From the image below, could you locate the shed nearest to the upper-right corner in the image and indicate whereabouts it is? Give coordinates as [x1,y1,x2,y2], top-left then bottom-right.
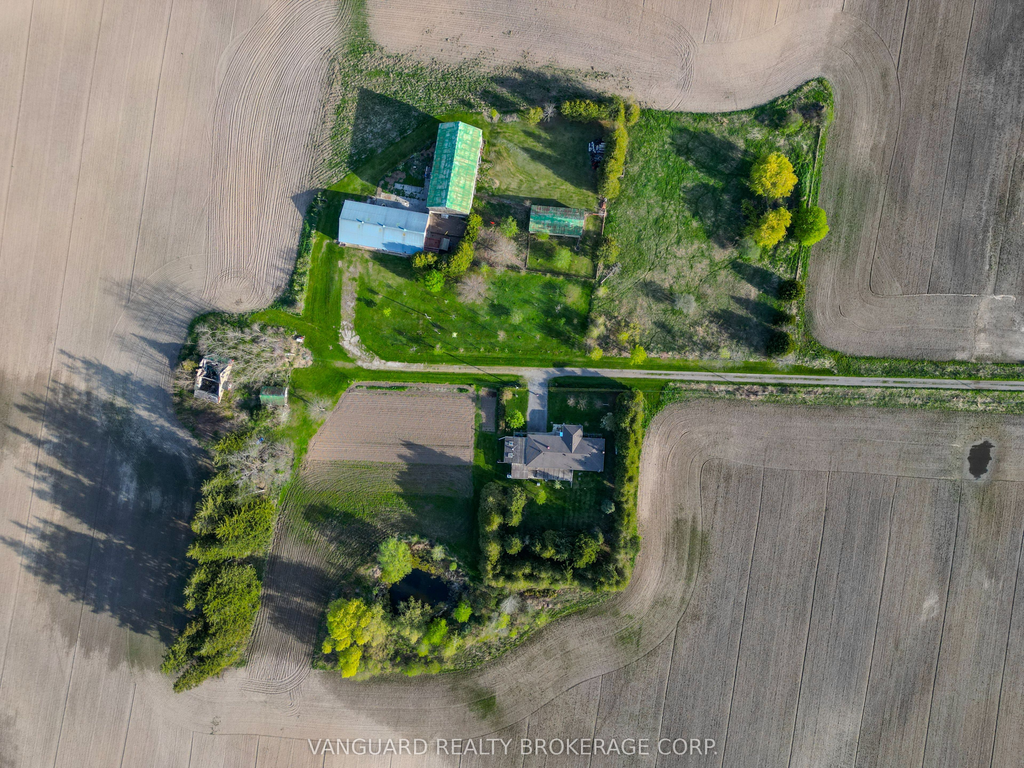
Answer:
[529,205,584,237]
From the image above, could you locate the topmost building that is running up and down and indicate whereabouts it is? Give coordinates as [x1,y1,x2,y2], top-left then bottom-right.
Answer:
[426,121,483,217]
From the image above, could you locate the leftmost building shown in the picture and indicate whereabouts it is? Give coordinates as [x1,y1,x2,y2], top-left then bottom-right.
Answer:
[194,353,233,404]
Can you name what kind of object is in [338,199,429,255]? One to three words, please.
shed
